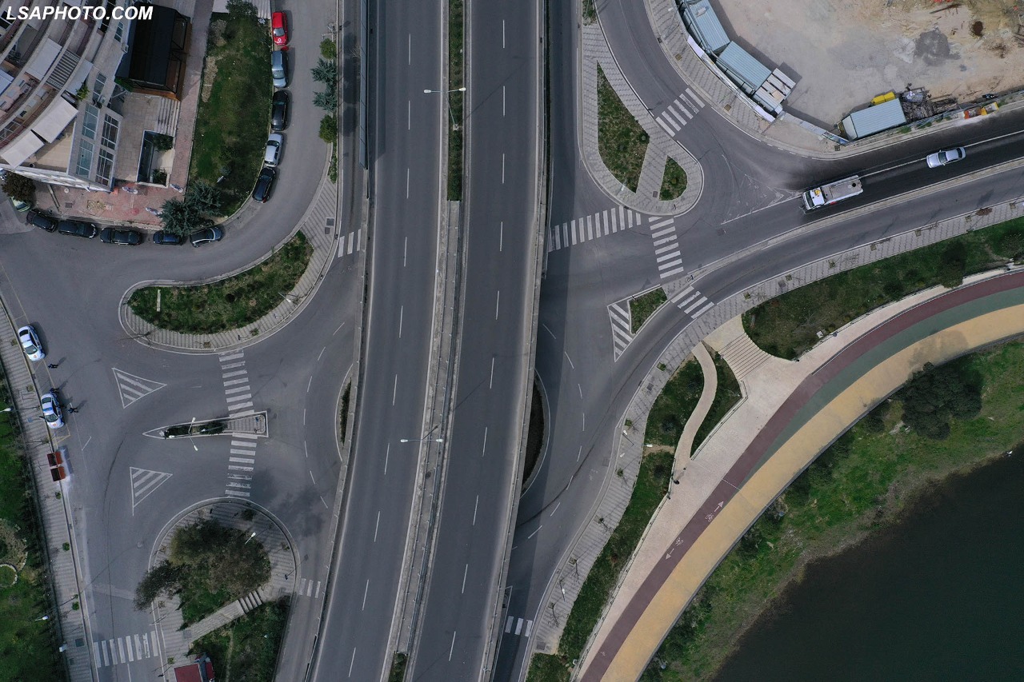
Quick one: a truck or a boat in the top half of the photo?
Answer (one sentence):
You can see a truck in the top half of the photo.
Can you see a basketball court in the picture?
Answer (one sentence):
No, this view has no basketball court in it.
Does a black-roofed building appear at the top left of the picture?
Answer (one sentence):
Yes, a black-roofed building is visible at the top left of the picture.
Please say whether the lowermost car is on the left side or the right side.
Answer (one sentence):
The lowermost car is on the left side of the image.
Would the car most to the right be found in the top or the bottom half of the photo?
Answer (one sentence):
The top half of the photo is where the car most to the right is.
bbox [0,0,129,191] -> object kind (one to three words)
building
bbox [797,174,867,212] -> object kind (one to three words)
truck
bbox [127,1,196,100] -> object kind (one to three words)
building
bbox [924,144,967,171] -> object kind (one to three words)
car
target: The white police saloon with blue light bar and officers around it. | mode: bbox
[40,389,67,429]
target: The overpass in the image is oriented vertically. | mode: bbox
[305,0,547,682]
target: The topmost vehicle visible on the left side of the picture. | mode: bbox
[270,11,289,47]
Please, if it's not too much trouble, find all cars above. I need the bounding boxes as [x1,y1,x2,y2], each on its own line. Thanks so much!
[100,227,145,246]
[153,229,186,246]
[270,50,290,89]
[253,166,278,204]
[40,389,67,429]
[20,324,46,363]
[264,133,284,168]
[5,194,35,217]
[23,207,59,233]
[57,219,100,239]
[924,144,967,171]
[270,11,289,47]
[270,91,290,132]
